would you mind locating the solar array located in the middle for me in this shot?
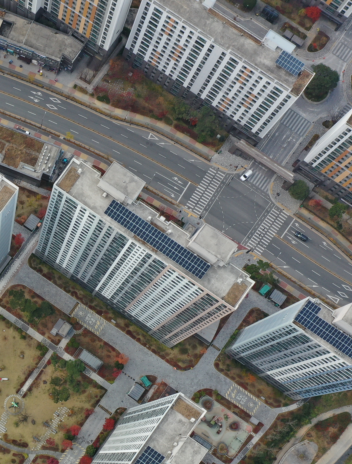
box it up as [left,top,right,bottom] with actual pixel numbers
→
[104,199,209,279]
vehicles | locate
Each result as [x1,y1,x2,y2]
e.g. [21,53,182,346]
[16,125,32,135]
[239,169,252,182]
[294,231,308,242]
